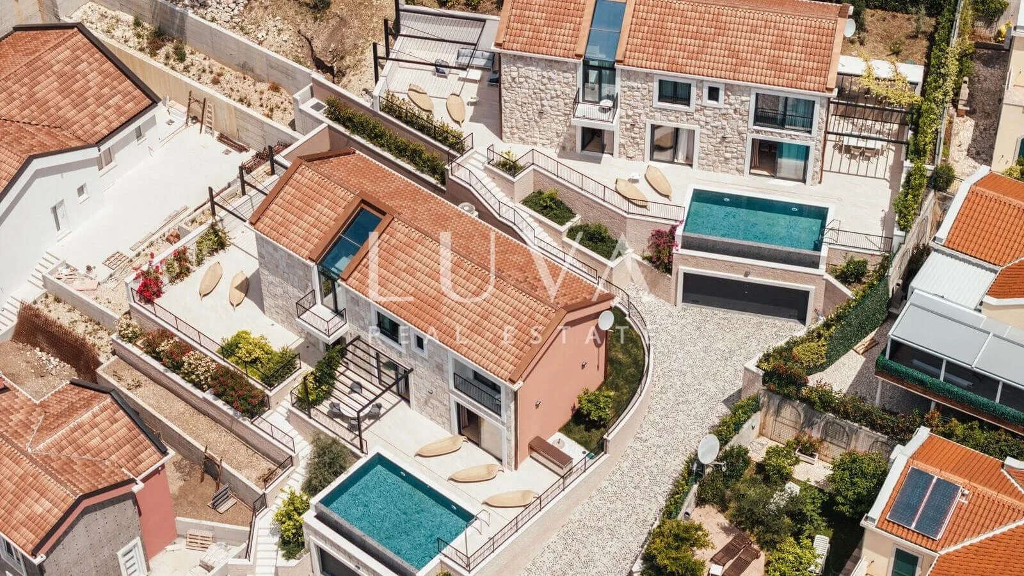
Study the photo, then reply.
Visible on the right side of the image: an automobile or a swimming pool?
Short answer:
swimming pool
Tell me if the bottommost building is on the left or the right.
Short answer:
left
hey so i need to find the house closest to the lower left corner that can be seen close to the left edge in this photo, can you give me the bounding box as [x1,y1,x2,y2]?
[0,368,175,576]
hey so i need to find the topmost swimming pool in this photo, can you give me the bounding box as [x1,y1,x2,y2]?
[675,184,834,274]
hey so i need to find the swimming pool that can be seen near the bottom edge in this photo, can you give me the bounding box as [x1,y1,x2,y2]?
[302,446,484,576]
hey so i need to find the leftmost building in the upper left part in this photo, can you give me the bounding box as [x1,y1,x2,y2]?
[0,24,164,278]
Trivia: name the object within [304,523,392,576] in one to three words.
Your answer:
building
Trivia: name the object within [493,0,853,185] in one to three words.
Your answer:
house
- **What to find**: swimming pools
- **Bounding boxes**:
[302,446,484,576]
[675,184,834,274]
